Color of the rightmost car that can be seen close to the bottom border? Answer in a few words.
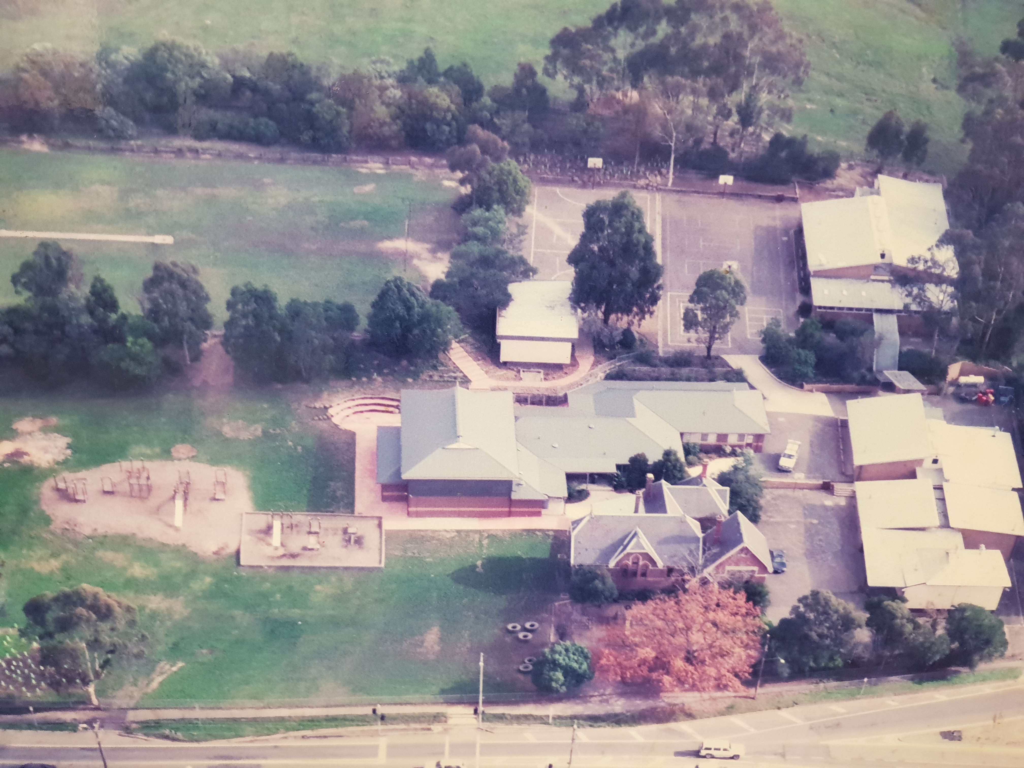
white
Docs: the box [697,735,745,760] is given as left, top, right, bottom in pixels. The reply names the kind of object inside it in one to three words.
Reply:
car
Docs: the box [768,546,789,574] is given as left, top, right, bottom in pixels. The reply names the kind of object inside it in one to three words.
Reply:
car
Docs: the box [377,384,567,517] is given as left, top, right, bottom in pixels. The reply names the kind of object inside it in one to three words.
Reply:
building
